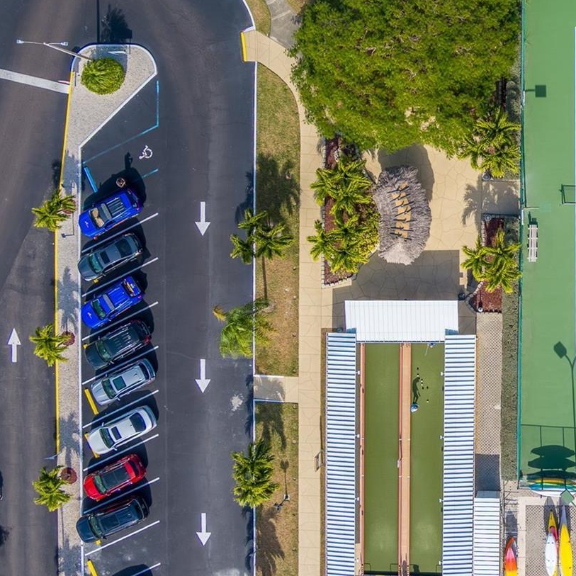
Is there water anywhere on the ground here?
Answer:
No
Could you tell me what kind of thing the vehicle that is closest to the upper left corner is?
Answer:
car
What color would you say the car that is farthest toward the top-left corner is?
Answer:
blue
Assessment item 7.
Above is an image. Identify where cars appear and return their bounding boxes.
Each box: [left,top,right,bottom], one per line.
[82,451,153,498]
[88,405,163,455]
[78,187,148,236]
[83,318,157,368]
[80,277,150,325]
[90,357,162,402]
[75,229,148,278]
[75,491,155,541]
